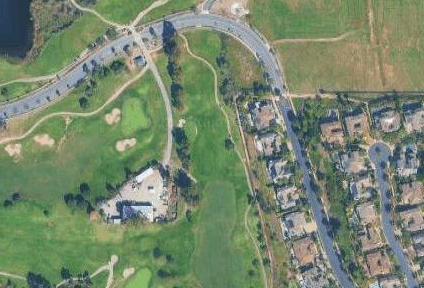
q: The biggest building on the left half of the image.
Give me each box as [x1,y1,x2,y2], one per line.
[122,206,152,221]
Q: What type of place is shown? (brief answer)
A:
golf course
